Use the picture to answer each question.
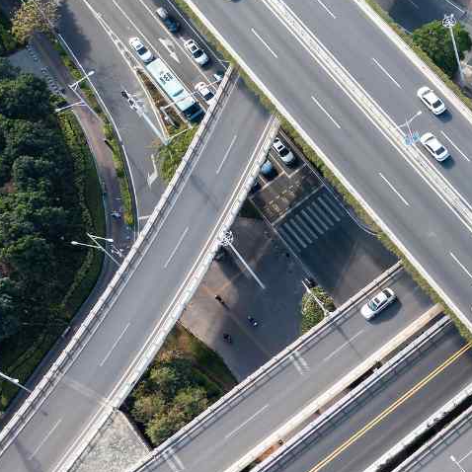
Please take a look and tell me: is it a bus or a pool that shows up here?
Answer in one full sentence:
The image shows a bus.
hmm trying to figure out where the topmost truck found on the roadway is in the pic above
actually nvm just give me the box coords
[154,7,180,34]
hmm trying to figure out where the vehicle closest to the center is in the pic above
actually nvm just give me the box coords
[251,182,266,200]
